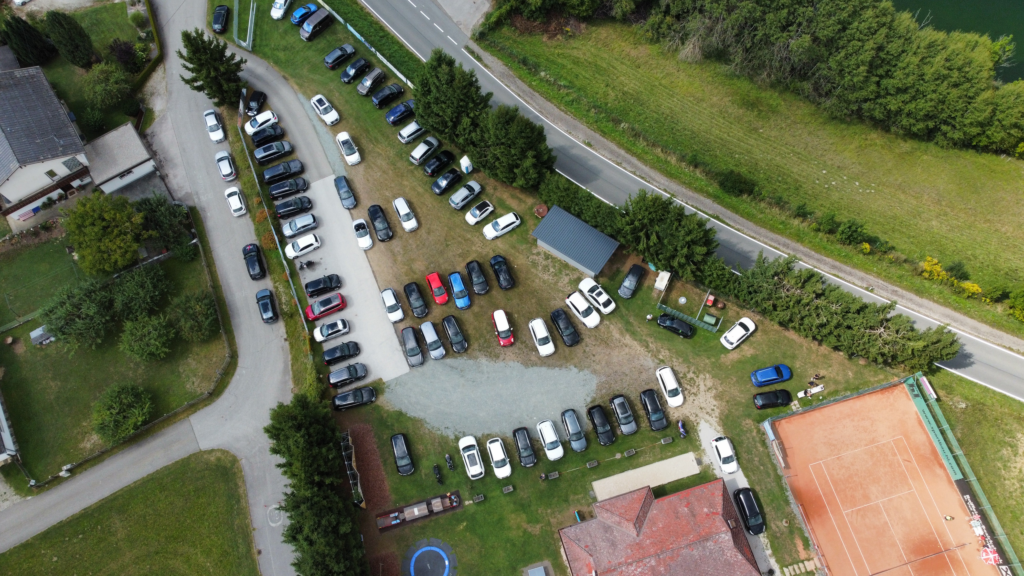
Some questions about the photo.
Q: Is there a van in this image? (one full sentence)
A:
Yes, looking at the shot, I can spot a van.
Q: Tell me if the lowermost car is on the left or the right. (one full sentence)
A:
The lowermost car sits on the right side.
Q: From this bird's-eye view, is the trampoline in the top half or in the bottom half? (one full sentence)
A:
Seen from above, the trampoline lies in the bottom half of the view.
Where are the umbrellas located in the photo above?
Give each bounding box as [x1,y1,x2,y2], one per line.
[964,515,981,522]
[976,547,1000,568]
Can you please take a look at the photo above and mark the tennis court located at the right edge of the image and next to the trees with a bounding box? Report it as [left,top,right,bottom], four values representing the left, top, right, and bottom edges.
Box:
[769,383,1000,576]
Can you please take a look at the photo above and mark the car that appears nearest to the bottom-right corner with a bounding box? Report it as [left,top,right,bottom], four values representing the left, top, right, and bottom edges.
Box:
[735,487,765,535]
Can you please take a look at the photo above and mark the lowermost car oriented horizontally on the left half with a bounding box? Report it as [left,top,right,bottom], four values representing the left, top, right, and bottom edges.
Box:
[332,386,377,412]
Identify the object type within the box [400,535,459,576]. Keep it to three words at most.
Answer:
trampoline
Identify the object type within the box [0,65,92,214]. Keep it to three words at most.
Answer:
house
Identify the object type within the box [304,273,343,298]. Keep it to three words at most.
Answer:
car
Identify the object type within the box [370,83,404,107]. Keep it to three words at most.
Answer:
vehicle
